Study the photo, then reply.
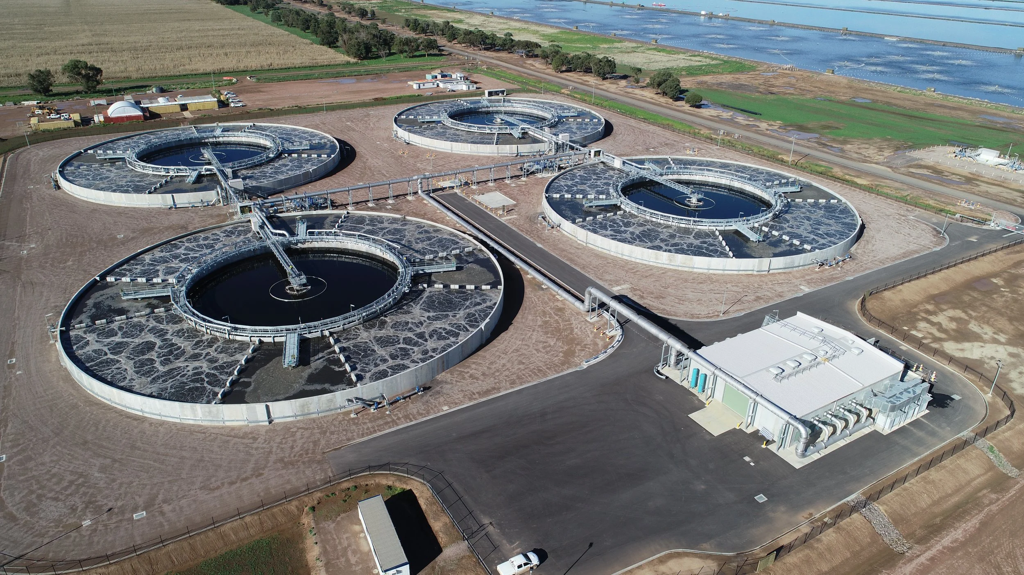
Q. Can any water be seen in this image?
Yes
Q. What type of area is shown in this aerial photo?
industrial area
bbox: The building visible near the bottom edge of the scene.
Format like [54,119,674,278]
[357,494,410,575]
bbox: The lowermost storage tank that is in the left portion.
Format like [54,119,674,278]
[58,212,504,425]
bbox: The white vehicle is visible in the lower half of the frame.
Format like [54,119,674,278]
[498,551,544,575]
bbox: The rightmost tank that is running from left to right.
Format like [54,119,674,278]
[539,156,861,274]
